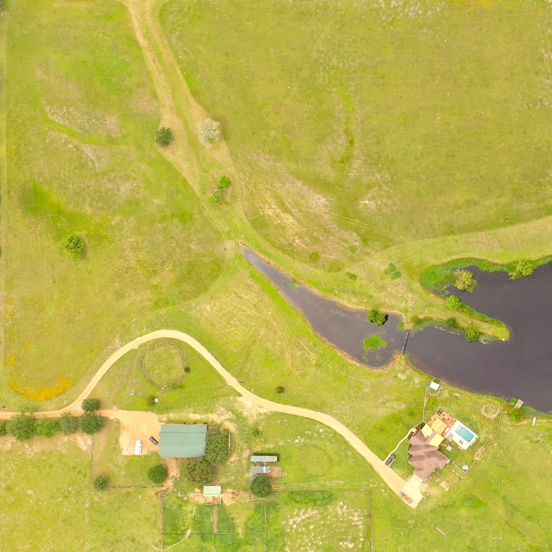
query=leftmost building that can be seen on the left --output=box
[158,424,208,458]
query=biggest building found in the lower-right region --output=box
[407,418,449,482]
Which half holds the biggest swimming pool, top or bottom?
bottom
